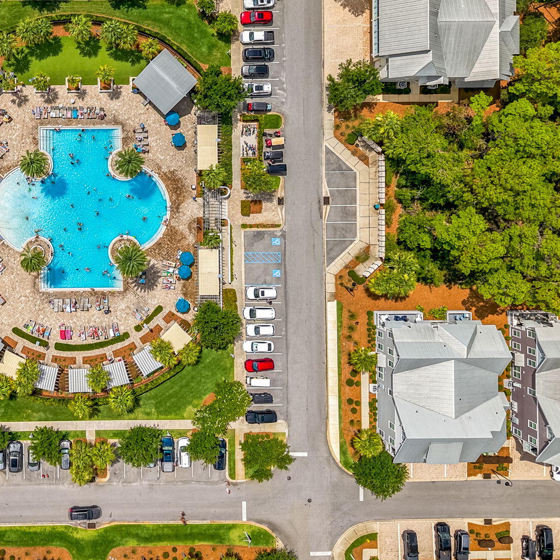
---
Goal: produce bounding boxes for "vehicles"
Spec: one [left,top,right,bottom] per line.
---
[161,435,176,473]
[536,524,555,560]
[214,438,230,471]
[241,339,274,354]
[264,137,287,147]
[8,440,23,472]
[244,408,277,424]
[242,46,274,62]
[263,165,287,173]
[241,306,275,322]
[245,323,274,337]
[245,375,269,385]
[261,151,284,160]
[242,0,273,9]
[239,10,272,26]
[452,529,472,560]
[68,504,101,522]
[177,435,191,468]
[243,358,273,373]
[239,29,274,44]
[518,533,536,559]
[246,103,269,113]
[401,529,419,560]
[243,82,272,97]
[250,391,272,402]
[434,521,453,560]
[26,449,39,472]
[240,64,268,78]
[244,285,276,301]
[550,462,560,482]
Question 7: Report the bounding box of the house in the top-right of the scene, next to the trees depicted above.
[366,0,519,87]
